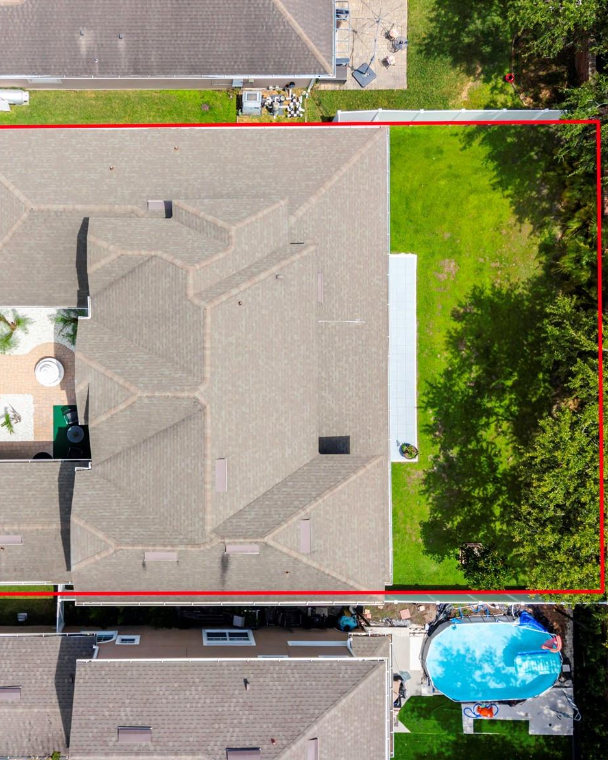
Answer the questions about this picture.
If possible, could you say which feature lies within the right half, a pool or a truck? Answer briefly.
pool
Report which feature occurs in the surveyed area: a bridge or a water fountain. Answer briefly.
water fountain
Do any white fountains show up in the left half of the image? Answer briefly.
Yes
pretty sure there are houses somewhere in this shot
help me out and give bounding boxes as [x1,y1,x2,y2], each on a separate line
[0,0,336,93]
[0,123,396,606]
[0,625,396,760]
